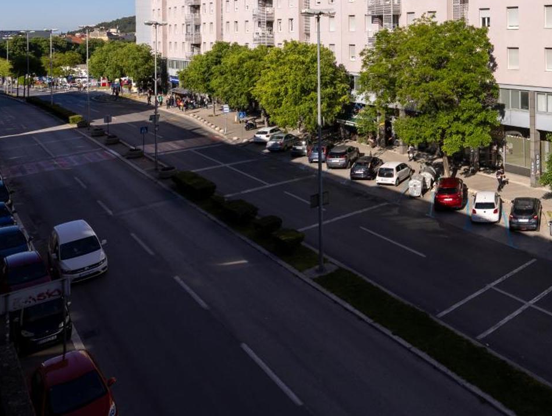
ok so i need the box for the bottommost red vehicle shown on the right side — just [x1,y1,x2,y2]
[434,174,466,209]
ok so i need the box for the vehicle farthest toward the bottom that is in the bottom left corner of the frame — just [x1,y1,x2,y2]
[22,348,132,416]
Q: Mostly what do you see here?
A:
paved ground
